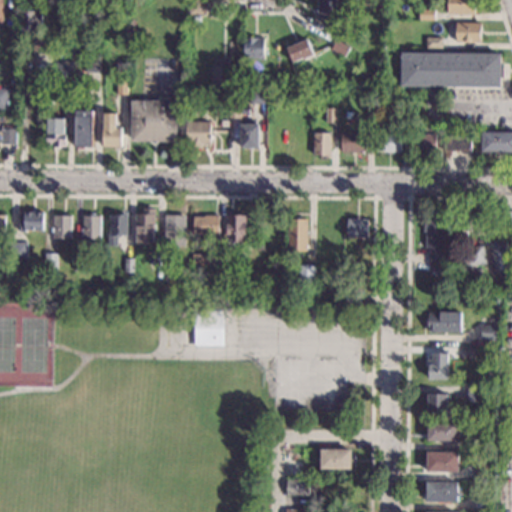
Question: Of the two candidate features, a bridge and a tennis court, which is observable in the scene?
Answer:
tennis court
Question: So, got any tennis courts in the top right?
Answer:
No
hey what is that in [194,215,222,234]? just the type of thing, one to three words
house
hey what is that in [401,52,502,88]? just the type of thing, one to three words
building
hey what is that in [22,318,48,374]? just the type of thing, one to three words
tennis court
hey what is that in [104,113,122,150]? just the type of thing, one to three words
house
